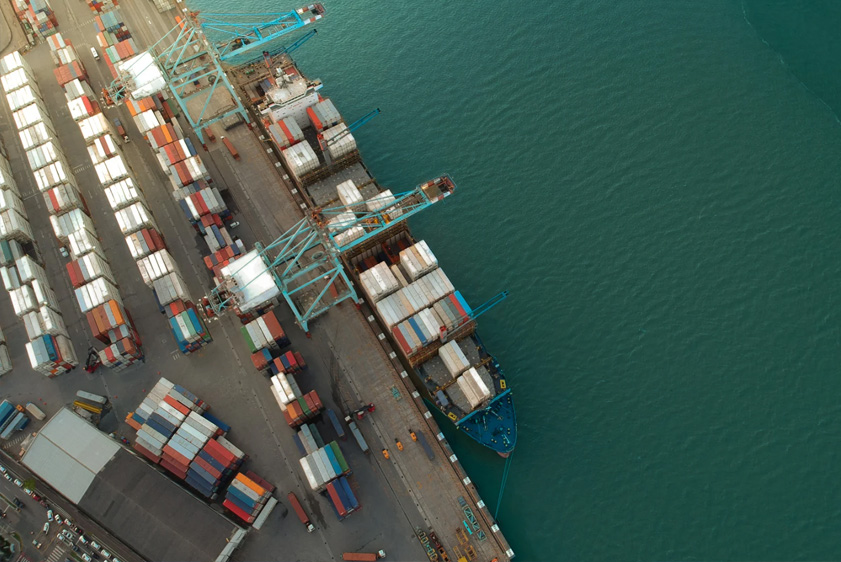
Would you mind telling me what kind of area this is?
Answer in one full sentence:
This image shows a port.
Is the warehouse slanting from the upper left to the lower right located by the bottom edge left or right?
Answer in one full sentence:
The warehouse slanting from the upper left to the lower right located by the bottom edge is on the left side of the image.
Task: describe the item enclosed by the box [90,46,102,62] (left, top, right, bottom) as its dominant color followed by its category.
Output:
white vehicle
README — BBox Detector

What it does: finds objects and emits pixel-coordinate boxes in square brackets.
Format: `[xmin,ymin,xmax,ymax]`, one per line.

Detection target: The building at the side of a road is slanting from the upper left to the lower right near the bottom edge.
[19,407,252,562]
